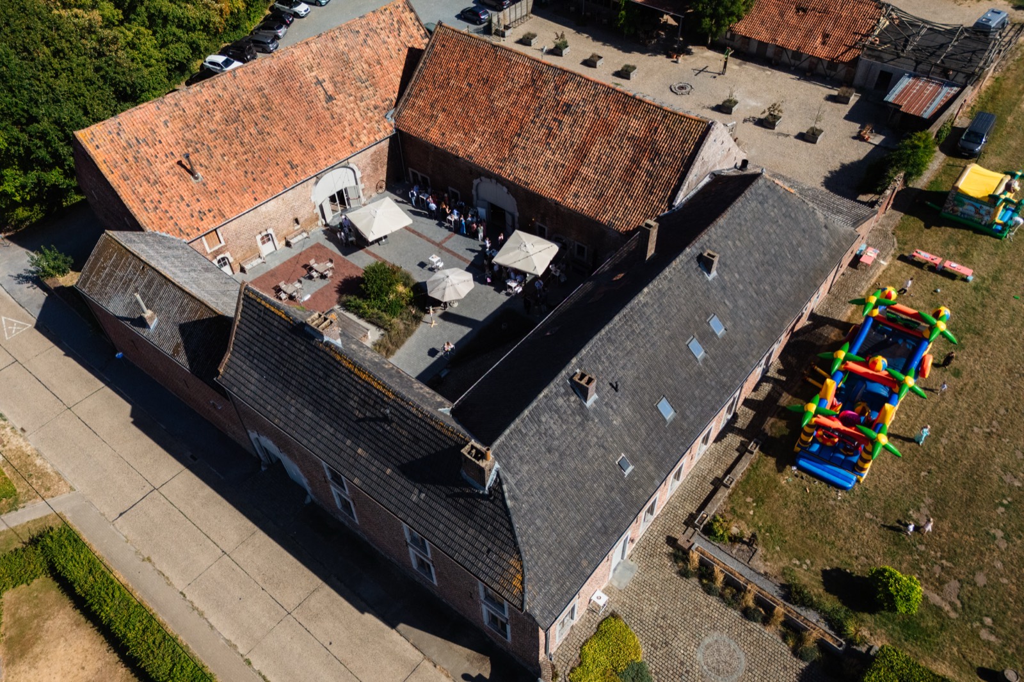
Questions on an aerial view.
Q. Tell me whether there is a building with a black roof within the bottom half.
Yes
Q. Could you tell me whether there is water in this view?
No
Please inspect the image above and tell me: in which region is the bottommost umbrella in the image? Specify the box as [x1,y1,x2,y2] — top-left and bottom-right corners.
[426,268,474,309]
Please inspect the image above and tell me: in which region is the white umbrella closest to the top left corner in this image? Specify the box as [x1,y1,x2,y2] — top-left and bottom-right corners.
[341,197,413,250]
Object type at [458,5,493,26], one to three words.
car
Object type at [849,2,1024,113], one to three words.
barn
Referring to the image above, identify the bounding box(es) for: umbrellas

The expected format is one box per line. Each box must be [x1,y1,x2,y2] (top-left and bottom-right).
[426,268,474,309]
[341,197,413,250]
[492,230,559,284]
